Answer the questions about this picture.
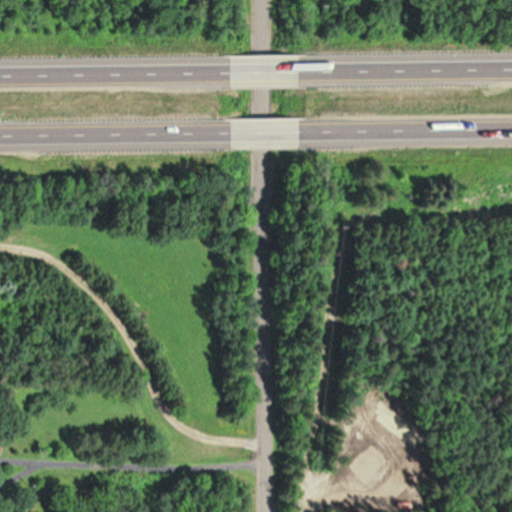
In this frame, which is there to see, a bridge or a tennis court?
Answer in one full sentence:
The one in the frame is a bridge.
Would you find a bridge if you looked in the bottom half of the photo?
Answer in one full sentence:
No, the scene shows no bridge in the bottom half of the photo.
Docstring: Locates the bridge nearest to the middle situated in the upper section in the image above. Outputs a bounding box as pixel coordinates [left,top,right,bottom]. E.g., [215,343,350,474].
[225,118,304,150]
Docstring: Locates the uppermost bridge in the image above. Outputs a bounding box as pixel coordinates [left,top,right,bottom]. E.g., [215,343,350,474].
[225,54,304,90]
